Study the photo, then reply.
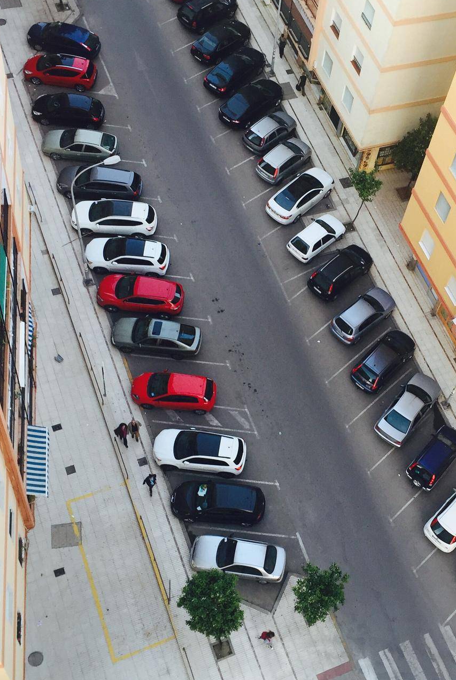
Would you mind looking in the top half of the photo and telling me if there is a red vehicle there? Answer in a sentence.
Yes, looking in the top half of the photo, one can make out a red vehicle.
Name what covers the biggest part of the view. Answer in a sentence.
The bulk of the photo consists of paved ground.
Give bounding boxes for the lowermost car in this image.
[190,536,289,588]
